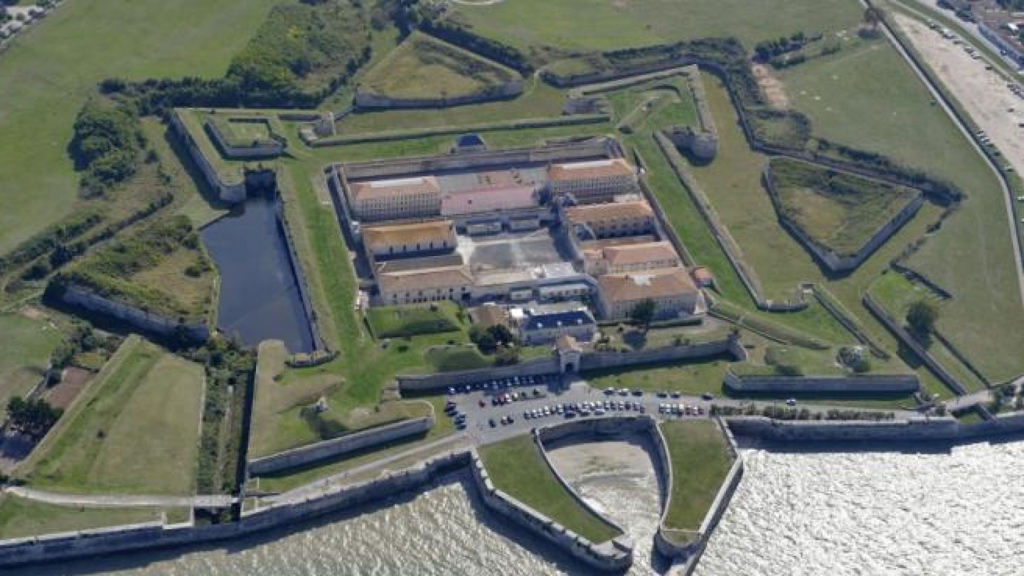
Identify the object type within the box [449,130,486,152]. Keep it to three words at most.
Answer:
building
